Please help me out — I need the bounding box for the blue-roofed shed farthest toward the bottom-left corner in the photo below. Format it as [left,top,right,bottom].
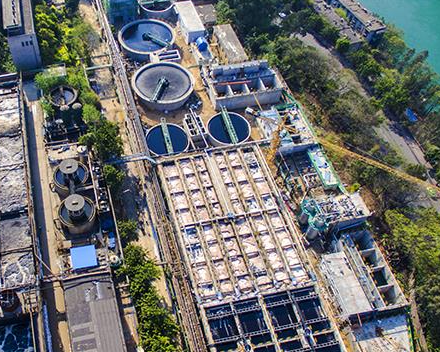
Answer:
[69,244,98,273]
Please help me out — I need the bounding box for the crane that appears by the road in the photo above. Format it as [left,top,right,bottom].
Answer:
[246,106,440,204]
